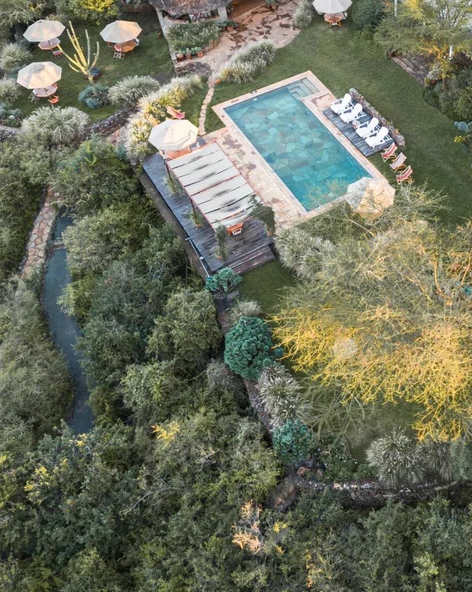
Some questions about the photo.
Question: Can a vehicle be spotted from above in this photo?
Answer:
No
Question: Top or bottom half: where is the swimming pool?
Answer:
top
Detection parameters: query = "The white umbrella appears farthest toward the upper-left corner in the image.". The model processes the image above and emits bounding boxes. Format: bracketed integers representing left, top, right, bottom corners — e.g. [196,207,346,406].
[24,24,68,53]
